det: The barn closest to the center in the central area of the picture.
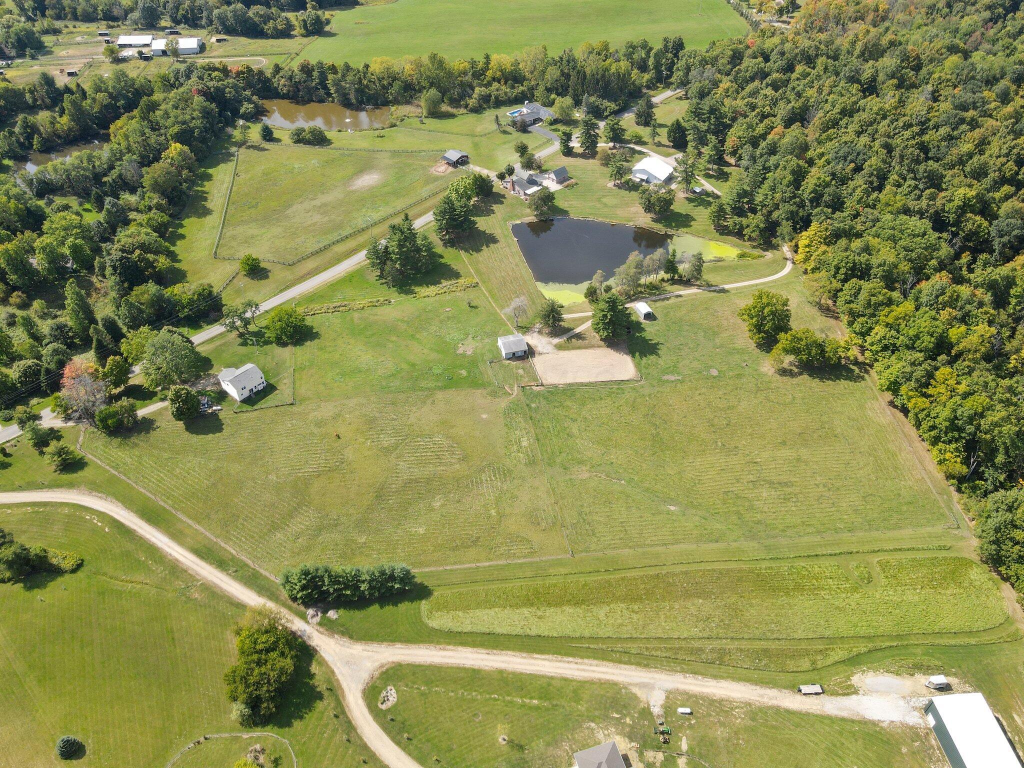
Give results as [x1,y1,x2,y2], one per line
[498,334,528,358]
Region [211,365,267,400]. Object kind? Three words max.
house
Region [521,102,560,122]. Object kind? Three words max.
house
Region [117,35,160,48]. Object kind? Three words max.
barn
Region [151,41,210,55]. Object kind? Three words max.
barn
